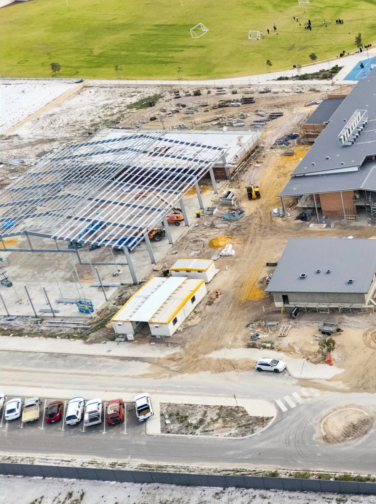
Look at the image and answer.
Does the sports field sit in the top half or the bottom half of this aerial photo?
top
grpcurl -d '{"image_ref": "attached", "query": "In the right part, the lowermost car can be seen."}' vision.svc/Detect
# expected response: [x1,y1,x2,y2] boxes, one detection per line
[254,358,286,372]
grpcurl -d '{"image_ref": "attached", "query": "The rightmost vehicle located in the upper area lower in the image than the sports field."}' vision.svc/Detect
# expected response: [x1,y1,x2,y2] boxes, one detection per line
[242,183,264,201]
